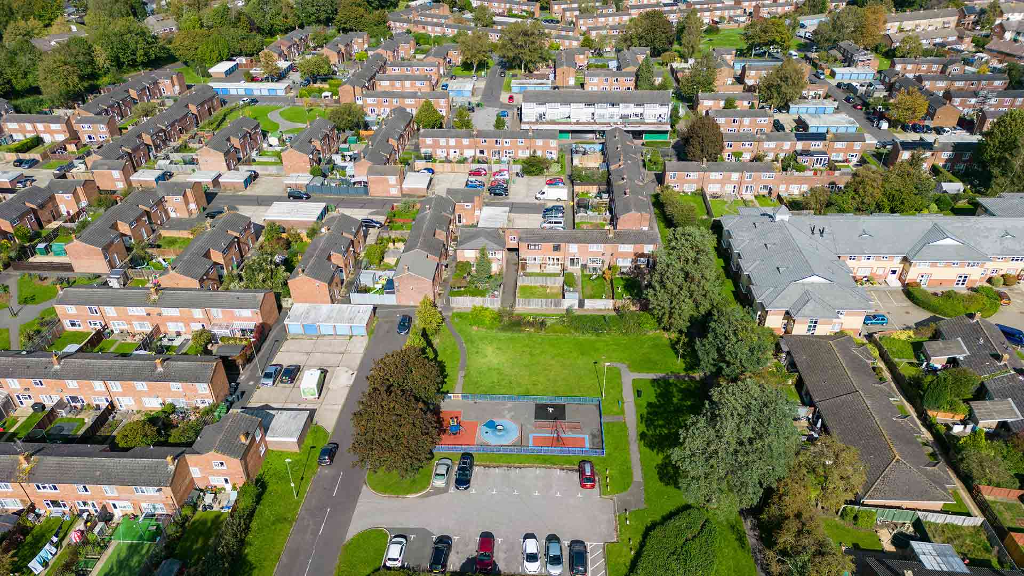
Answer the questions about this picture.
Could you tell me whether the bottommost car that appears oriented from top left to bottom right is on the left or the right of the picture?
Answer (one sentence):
The bottommost car that appears oriented from top left to bottom right appears in the right half of the scene.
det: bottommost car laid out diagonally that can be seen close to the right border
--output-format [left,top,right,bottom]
[997,324,1024,347]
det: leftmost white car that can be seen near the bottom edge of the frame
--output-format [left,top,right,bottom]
[383,535,407,572]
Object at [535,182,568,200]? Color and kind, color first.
white vehicle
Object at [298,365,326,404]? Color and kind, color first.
white trailer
